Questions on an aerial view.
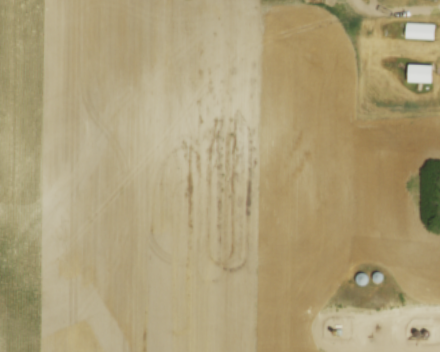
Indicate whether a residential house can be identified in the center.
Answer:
No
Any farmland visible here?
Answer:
Yes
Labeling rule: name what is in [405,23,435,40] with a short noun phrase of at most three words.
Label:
shed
